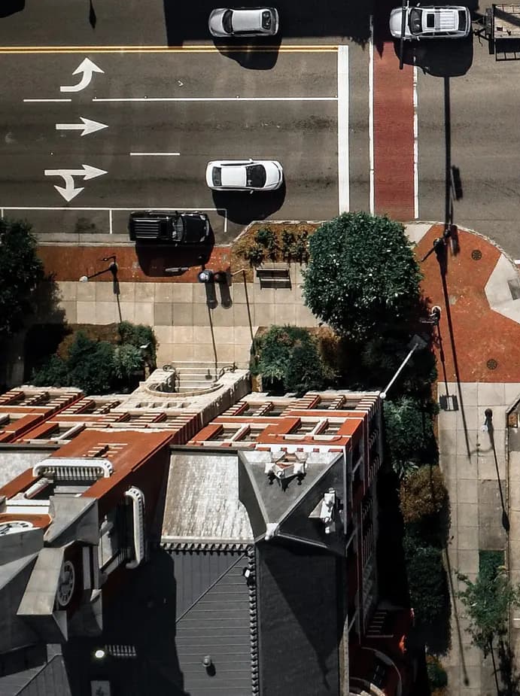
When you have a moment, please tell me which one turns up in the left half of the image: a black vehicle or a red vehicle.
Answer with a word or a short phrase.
black vehicle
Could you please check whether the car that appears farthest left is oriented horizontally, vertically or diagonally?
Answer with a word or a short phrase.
horizontally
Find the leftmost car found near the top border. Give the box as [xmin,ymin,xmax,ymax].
[209,4,280,41]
